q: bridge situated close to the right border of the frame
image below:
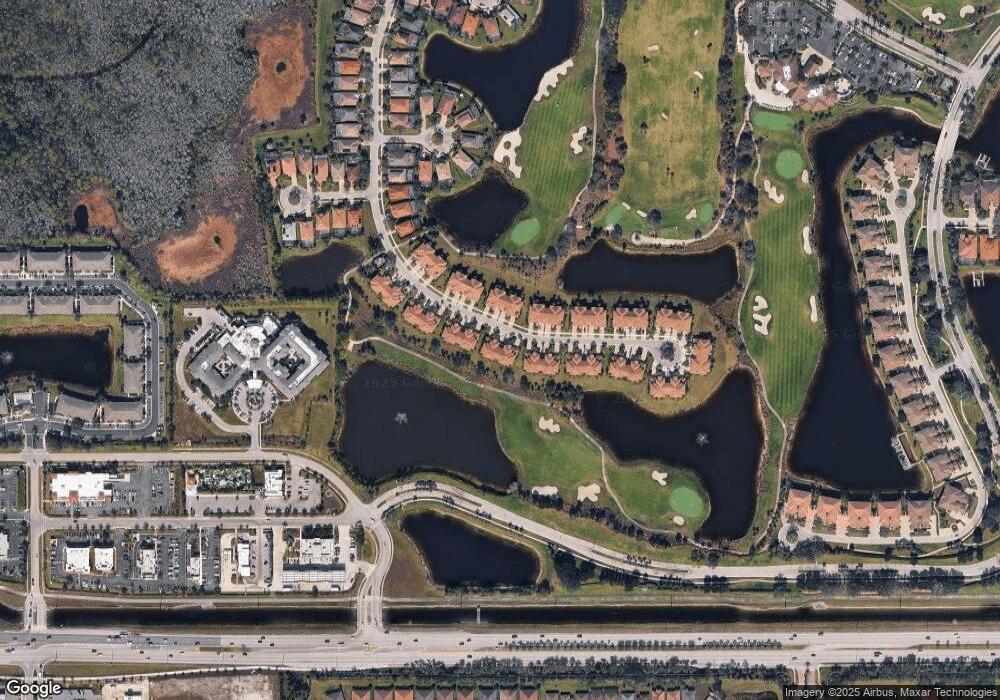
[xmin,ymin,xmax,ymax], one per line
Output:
[931,120,962,181]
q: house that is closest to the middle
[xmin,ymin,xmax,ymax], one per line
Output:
[480,340,518,364]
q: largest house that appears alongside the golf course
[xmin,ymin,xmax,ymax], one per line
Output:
[187,307,329,400]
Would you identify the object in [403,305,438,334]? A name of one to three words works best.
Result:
house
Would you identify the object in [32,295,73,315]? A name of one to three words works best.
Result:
building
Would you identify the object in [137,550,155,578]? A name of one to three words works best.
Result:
building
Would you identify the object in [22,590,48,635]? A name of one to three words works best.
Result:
bridge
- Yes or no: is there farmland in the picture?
No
